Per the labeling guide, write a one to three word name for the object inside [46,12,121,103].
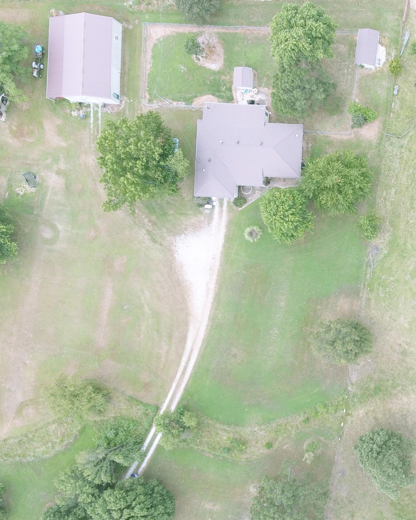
barn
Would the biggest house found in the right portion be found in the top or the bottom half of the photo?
top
